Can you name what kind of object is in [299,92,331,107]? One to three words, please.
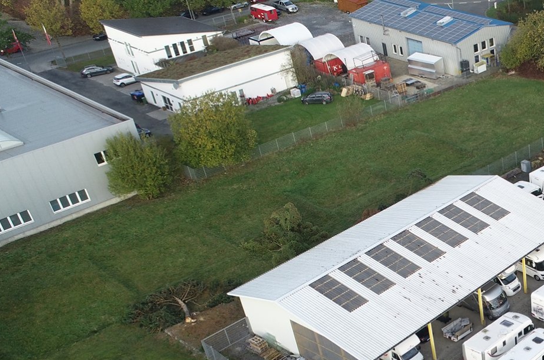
car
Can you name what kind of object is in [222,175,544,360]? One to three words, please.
shed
